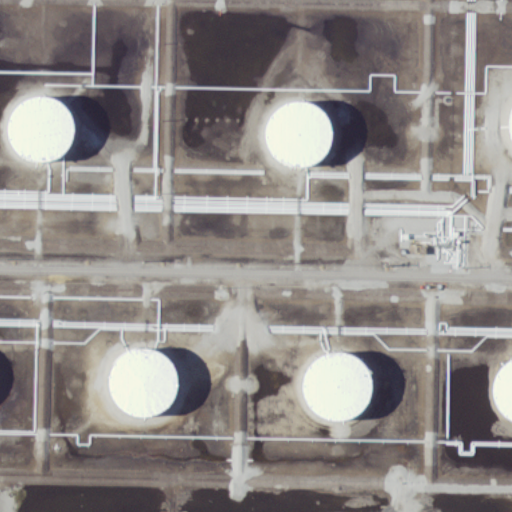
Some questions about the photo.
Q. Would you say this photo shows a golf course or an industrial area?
industrial area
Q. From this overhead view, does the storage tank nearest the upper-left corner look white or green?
white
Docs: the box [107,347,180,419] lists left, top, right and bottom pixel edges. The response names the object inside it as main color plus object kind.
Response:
white storage tank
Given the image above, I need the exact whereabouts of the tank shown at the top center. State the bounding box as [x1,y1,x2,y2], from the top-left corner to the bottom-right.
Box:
[264,99,334,169]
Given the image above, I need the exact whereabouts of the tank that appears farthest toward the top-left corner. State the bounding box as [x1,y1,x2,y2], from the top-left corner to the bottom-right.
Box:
[7,94,77,164]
